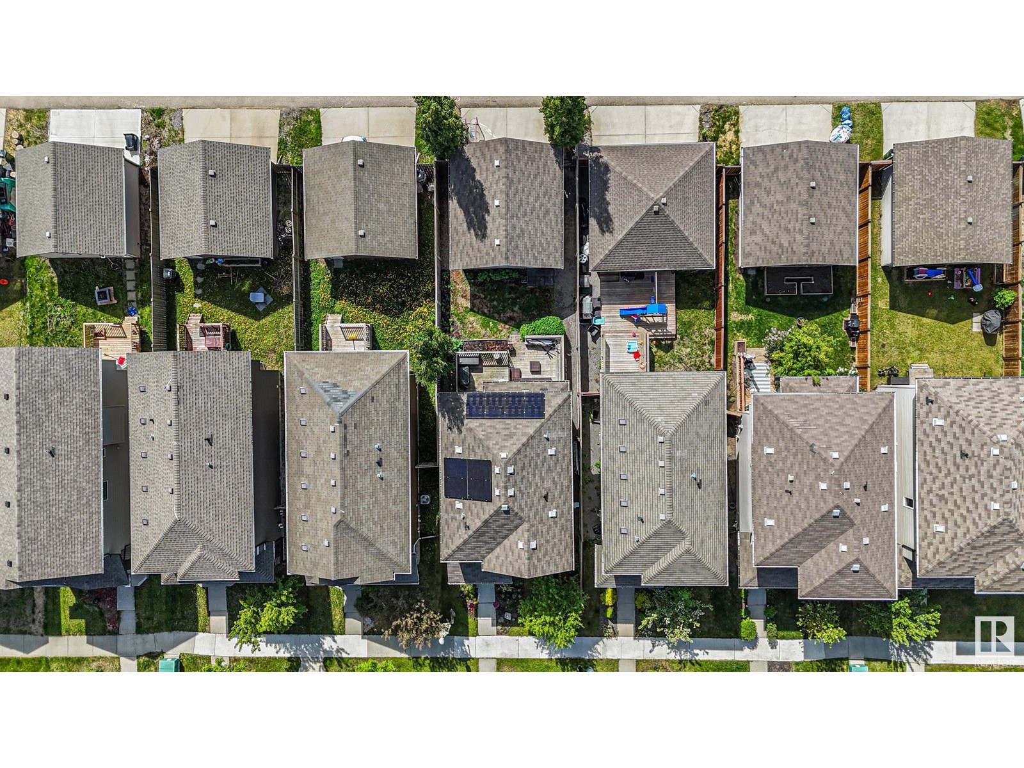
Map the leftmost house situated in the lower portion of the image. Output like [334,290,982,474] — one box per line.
[0,346,146,587]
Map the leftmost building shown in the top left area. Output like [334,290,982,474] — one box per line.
[15,141,140,260]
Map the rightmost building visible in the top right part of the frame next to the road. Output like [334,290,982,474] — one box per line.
[880,135,1013,269]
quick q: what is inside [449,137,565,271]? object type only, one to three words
building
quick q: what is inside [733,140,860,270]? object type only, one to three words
building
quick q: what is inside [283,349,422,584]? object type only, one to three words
house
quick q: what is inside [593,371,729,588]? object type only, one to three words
house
